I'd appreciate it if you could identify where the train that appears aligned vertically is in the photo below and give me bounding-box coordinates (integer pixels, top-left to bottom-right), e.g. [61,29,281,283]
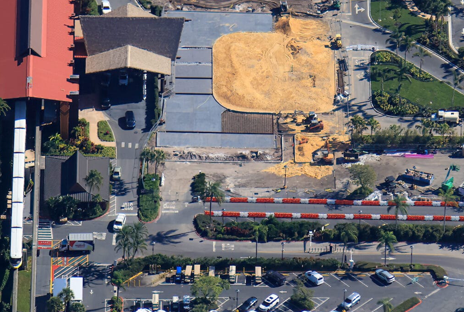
[9,101,26,276]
